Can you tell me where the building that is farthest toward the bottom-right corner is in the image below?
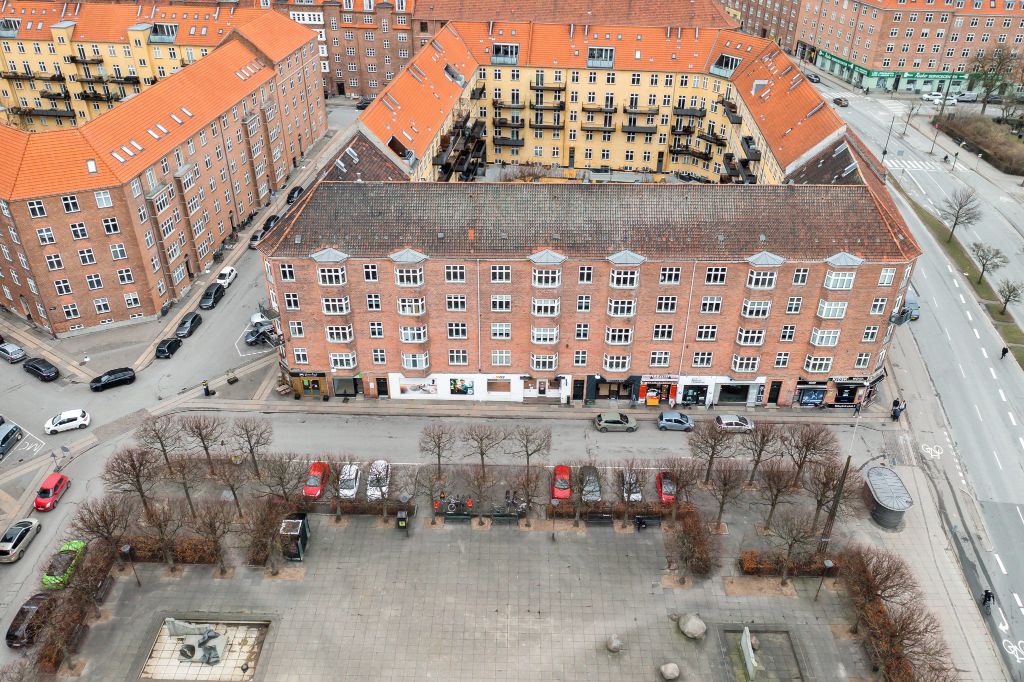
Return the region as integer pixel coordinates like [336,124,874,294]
[857,468,916,536]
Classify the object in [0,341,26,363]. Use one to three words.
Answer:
car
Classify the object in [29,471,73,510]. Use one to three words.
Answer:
car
